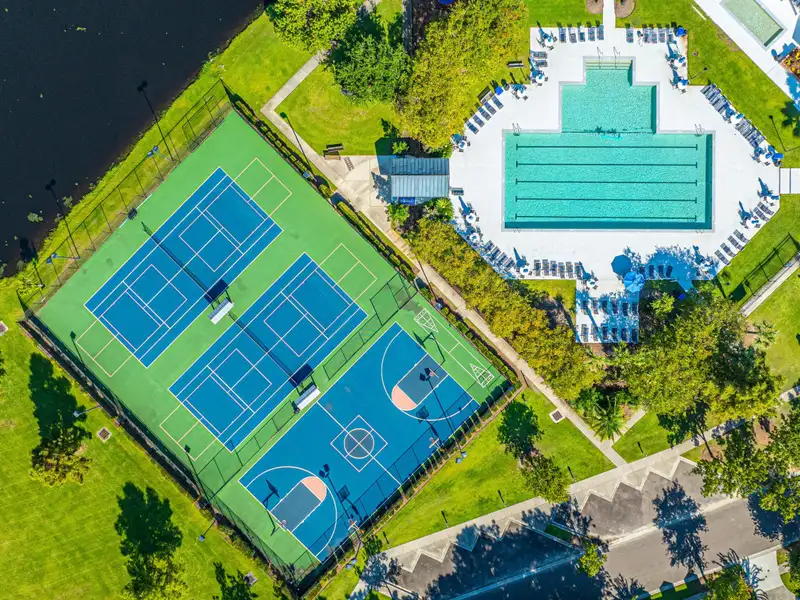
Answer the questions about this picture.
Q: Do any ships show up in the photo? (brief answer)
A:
No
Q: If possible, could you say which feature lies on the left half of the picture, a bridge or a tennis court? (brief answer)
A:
tennis court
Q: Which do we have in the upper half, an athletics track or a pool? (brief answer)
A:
pool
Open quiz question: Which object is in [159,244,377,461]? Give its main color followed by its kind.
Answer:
blue tennis court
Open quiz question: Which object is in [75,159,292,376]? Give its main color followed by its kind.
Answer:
blue tennis court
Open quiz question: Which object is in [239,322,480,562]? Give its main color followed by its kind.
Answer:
blue basketball court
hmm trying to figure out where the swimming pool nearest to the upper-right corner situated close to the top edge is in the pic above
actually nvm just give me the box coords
[714,0,790,52]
